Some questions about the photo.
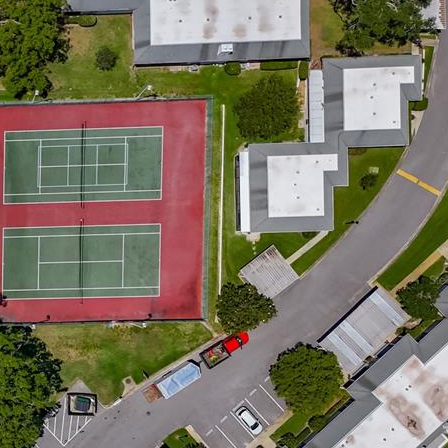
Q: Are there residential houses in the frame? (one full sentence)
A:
Yes, the photo shows a residential house.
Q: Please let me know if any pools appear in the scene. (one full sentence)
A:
No, no pool is visible in the scene.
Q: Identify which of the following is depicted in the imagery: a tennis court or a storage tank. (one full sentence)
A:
The image shows a tennis court.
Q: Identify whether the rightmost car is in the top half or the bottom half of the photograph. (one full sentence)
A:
It is in the bottom half that the rightmost car appears.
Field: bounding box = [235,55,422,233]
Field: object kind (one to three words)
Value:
house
